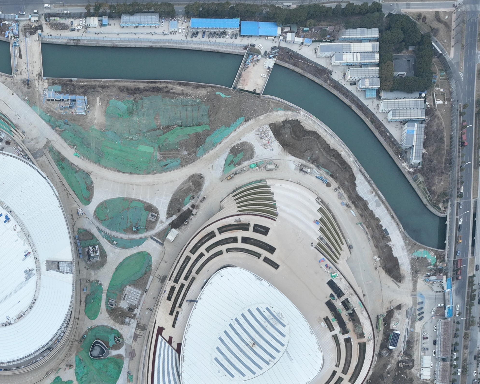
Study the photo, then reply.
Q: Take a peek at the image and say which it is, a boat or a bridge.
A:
bridge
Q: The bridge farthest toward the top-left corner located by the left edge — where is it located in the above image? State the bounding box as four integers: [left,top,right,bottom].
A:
[13,38,44,80]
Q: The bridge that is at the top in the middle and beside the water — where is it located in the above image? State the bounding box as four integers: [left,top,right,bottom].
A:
[228,42,276,98]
